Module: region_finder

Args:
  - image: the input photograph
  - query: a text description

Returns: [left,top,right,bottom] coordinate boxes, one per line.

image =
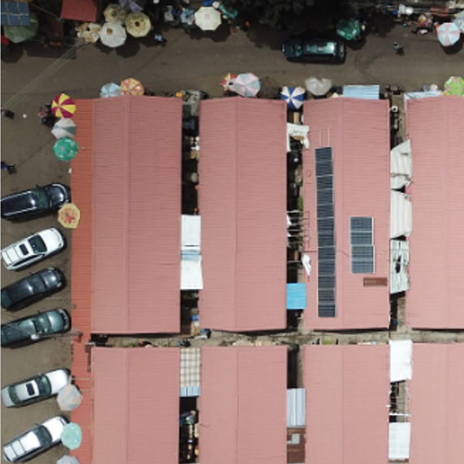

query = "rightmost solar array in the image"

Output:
[350,216,374,274]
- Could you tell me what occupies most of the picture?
buildings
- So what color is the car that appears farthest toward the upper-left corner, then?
black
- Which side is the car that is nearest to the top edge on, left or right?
right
